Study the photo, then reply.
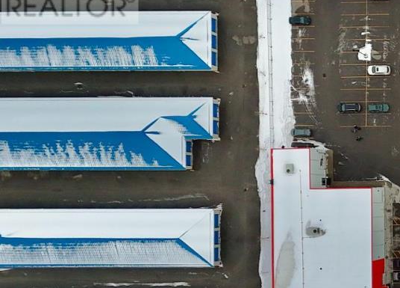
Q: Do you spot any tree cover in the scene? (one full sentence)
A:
No, there is no tree cover in the image.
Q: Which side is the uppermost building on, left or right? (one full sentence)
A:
The uppermost building is on the left side of the image.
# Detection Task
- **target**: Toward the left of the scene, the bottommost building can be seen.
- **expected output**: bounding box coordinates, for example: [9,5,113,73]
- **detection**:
[0,208,219,268]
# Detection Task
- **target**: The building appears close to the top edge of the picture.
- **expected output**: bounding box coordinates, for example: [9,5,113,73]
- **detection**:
[0,10,217,70]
